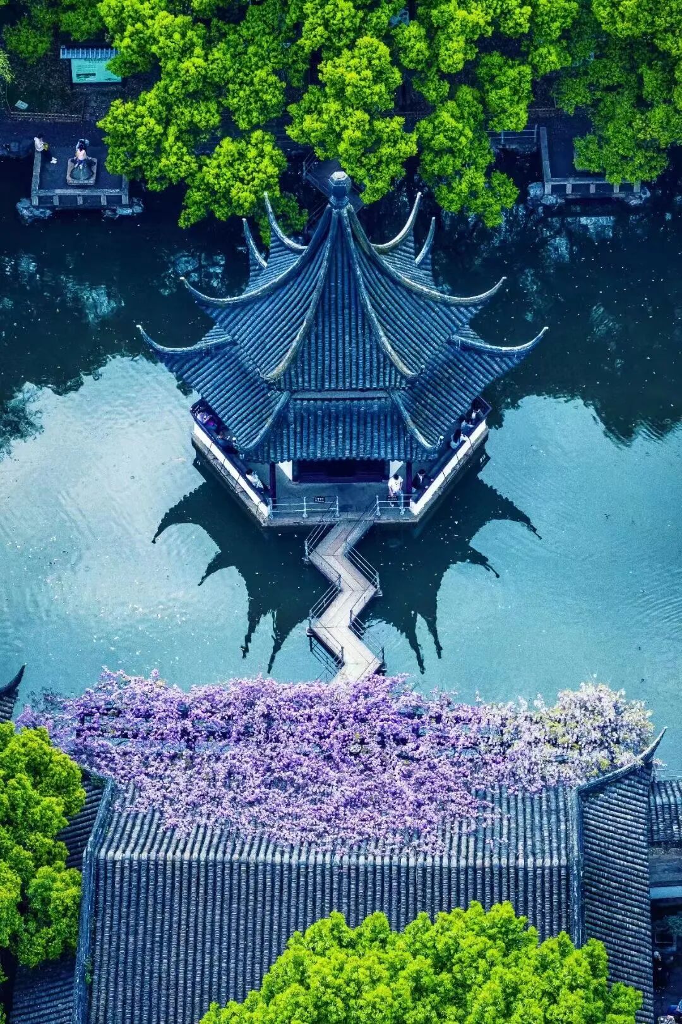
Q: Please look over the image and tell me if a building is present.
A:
Yes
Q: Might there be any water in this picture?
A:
Yes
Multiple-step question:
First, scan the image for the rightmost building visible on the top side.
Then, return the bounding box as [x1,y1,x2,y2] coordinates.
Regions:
[135,171,541,524]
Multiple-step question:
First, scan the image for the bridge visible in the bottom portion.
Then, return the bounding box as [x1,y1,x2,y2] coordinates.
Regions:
[304,515,386,746]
